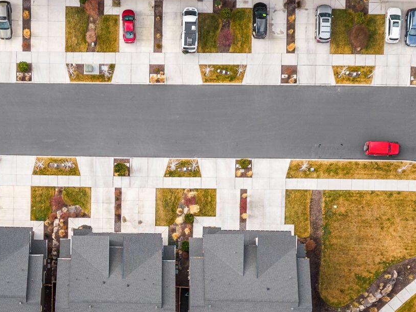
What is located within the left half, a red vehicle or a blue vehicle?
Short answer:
red vehicle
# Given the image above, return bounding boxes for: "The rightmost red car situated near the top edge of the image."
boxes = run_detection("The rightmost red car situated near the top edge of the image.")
[121,9,137,45]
